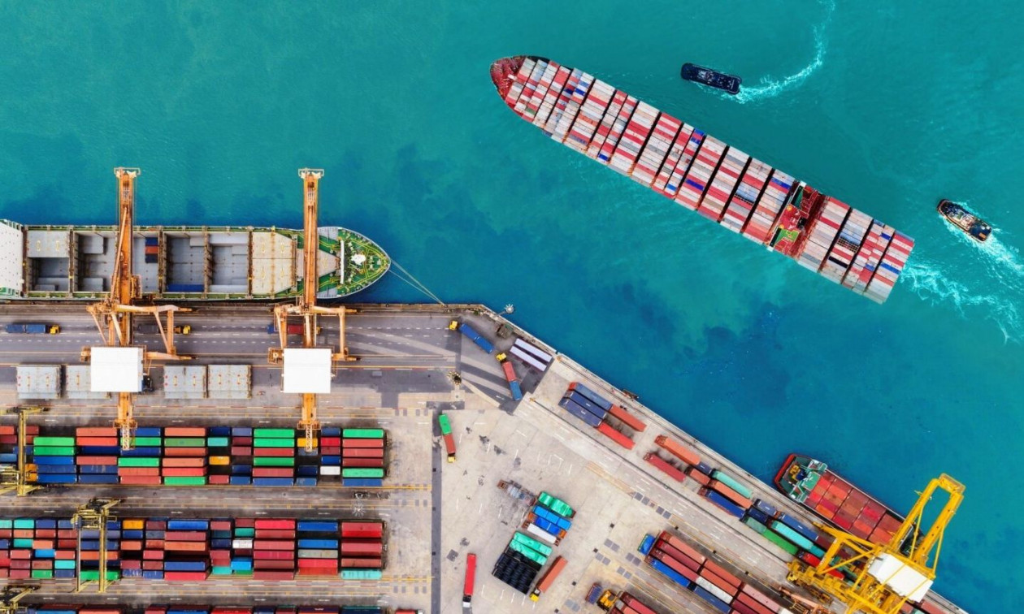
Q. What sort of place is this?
port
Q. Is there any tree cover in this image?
No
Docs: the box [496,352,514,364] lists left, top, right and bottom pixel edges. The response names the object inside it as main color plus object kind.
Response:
yellow vehicle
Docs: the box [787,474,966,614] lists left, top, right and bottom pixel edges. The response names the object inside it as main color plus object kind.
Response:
yellow container crane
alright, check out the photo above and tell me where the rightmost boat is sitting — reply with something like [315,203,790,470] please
[935,199,995,246]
